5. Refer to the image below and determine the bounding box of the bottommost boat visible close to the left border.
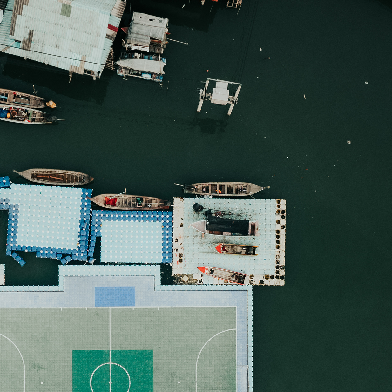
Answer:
[12,168,93,185]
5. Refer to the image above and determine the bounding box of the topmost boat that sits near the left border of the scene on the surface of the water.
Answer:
[0,87,48,108]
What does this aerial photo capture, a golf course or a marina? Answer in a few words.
marina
